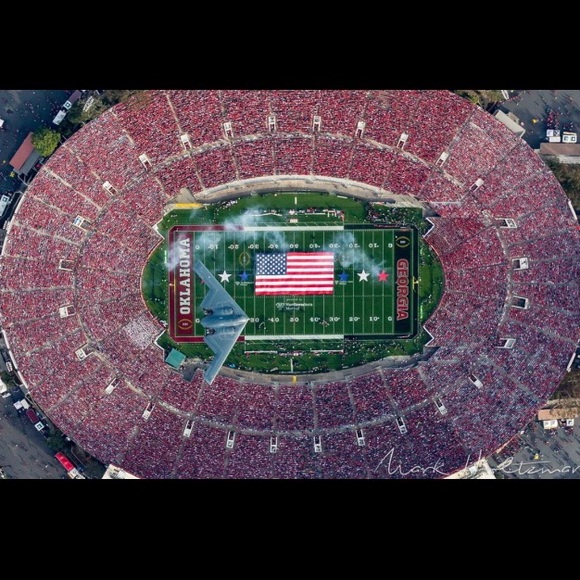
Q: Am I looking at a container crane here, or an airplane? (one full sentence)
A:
Visible in the photo is an airplane.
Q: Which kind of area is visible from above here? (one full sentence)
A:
The picture captures a sports ground.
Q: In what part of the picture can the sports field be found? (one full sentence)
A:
The sports field sits in the center section of the image.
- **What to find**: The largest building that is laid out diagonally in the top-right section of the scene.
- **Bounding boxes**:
[493,109,527,138]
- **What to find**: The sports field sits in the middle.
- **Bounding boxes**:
[167,221,422,345]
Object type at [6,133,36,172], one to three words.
building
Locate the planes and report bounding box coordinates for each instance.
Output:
[194,259,249,387]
